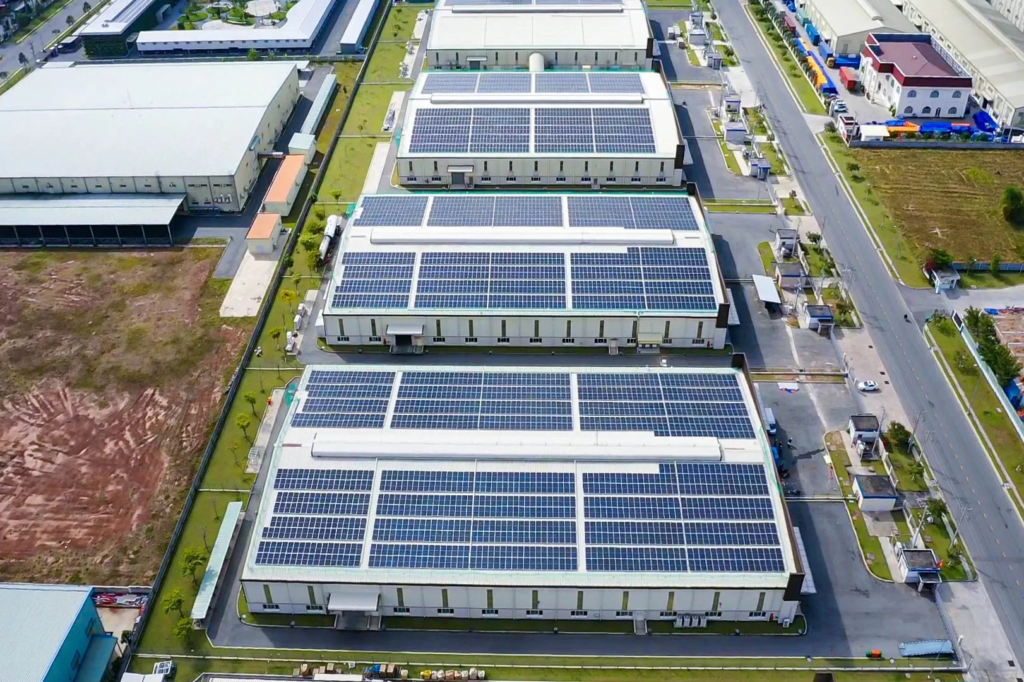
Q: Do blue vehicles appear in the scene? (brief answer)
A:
Yes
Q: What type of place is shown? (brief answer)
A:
industrial area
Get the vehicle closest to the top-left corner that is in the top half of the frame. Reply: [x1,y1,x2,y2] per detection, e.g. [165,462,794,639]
[316,217,339,269]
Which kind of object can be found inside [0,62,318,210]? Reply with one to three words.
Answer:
warehouse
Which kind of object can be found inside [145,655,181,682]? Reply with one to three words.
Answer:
truck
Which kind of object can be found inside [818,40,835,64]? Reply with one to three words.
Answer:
vehicle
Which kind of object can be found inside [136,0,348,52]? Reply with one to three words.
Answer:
building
